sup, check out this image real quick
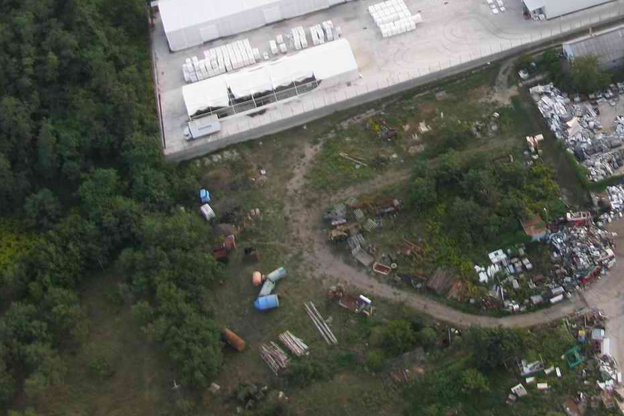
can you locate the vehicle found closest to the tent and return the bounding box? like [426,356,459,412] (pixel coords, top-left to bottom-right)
[184,113,221,139]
